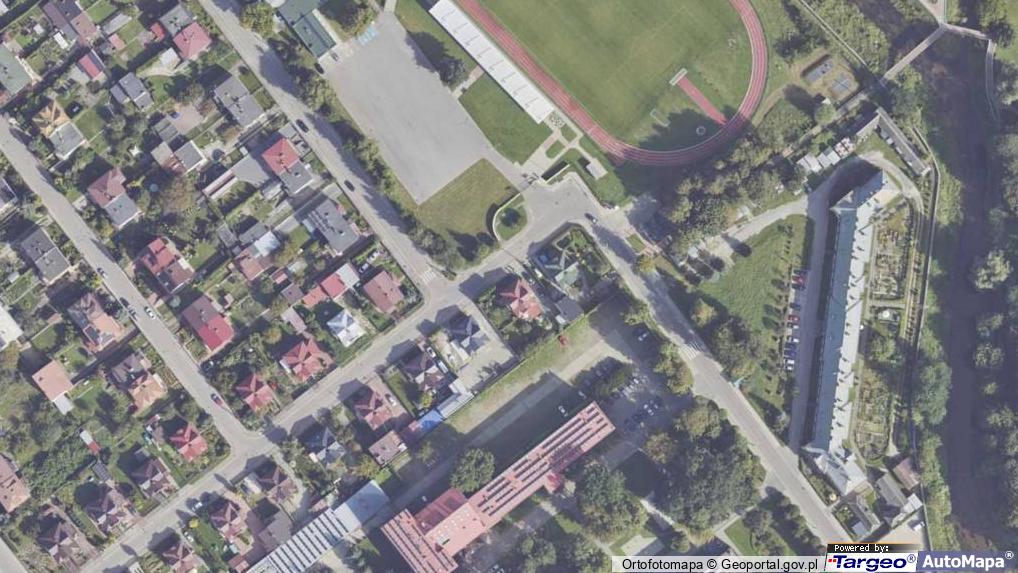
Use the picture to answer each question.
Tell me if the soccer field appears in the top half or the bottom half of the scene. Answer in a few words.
top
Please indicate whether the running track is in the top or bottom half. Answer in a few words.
top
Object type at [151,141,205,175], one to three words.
house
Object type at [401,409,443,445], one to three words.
shed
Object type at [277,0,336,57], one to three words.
building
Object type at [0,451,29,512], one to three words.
house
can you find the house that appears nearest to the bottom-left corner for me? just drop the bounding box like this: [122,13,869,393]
[39,520,81,564]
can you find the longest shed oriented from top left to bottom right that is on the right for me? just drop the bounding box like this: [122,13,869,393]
[881,112,931,175]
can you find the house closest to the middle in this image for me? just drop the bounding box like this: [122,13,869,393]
[500,281,544,322]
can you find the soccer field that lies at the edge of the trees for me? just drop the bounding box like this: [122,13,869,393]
[477,0,752,150]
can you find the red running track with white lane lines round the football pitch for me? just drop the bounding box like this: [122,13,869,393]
[458,0,767,166]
